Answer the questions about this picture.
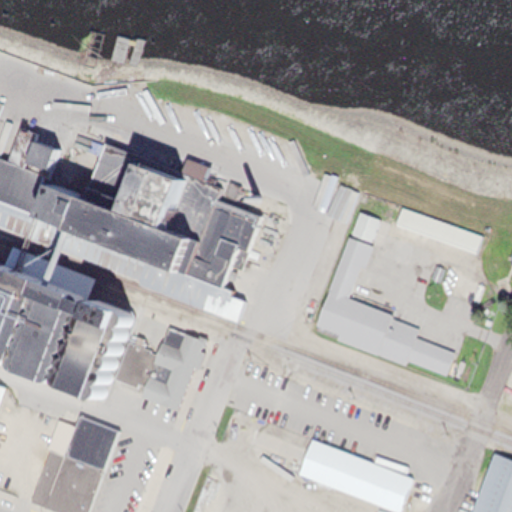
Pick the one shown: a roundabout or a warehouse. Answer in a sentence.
This aerial view contains a warehouse.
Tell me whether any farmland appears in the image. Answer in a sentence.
No, there is no farmland in the image.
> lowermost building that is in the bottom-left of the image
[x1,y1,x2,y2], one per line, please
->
[30,417,120,512]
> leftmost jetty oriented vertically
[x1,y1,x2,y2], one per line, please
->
[84,30,108,68]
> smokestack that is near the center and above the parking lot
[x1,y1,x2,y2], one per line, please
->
[241,196,268,210]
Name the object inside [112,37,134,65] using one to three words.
pier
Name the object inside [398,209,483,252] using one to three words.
shed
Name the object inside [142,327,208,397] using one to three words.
building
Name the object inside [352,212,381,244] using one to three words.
building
